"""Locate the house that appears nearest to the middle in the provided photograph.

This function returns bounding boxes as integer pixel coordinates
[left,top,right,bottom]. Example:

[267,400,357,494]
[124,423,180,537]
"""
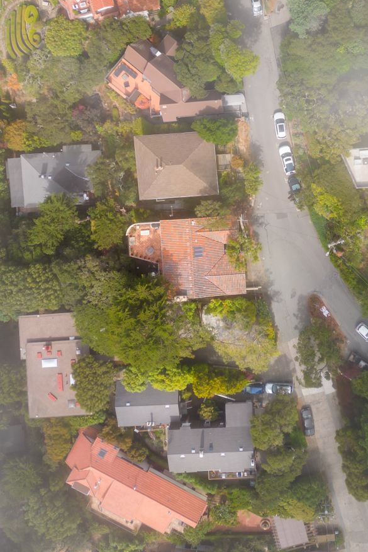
[127,216,247,303]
